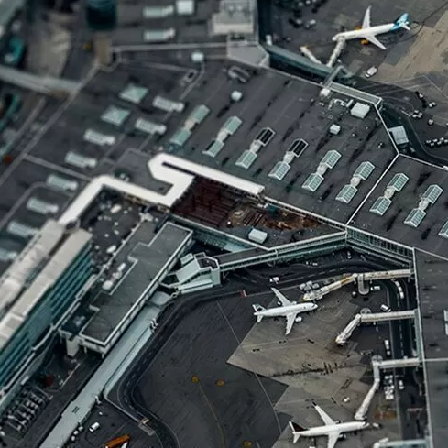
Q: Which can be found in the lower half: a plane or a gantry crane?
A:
plane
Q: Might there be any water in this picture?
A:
No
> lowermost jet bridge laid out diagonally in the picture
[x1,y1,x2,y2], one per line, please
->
[351,357,421,424]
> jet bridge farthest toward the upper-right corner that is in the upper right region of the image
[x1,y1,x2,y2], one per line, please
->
[323,33,348,70]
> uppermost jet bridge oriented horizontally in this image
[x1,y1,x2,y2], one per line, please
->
[298,265,414,306]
